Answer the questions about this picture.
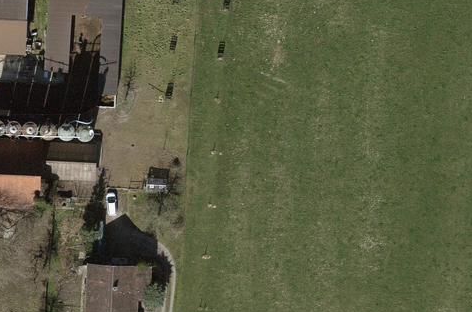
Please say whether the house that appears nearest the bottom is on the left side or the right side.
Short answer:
left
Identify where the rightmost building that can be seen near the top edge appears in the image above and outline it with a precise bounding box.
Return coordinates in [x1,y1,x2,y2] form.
[44,0,124,96]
